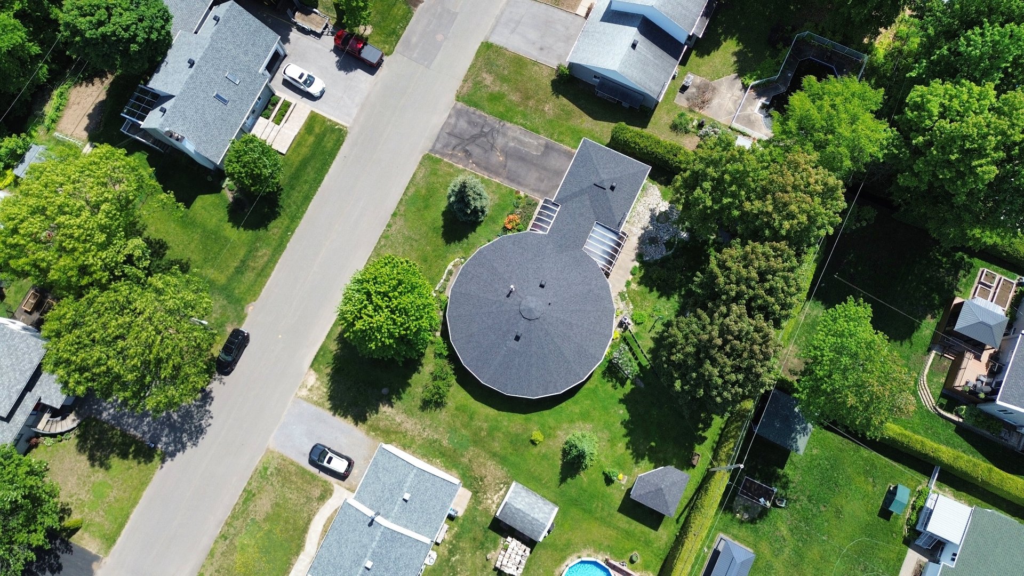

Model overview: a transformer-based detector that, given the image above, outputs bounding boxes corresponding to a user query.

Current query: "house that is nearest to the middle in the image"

[446,136,651,401]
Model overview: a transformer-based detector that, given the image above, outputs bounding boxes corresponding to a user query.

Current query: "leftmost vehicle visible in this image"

[219,325,253,377]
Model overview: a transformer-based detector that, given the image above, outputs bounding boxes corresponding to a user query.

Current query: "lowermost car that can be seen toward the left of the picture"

[307,446,357,478]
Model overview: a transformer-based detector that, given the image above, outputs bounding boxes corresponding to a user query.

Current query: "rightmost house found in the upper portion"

[565,0,719,116]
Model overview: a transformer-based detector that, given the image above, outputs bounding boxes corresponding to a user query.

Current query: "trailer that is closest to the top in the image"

[284,1,339,35]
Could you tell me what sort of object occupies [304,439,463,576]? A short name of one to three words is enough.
house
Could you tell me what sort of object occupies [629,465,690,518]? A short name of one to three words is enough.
gazebo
